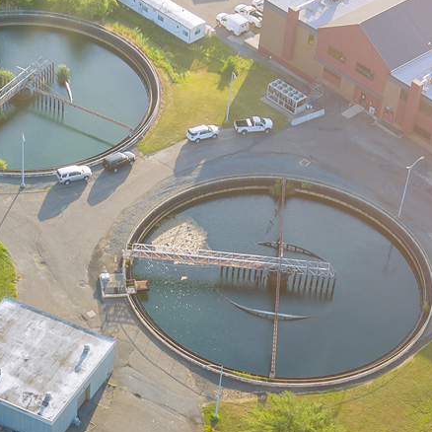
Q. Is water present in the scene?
Yes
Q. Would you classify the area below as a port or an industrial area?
industrial area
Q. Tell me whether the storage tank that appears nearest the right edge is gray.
Yes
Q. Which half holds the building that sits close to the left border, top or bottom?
bottom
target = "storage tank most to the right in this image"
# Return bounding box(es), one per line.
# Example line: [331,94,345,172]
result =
[117,169,432,392]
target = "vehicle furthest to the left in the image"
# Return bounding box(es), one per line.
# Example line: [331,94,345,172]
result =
[55,163,94,183]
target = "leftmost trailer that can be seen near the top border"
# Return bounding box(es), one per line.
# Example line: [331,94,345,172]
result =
[112,0,204,43]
